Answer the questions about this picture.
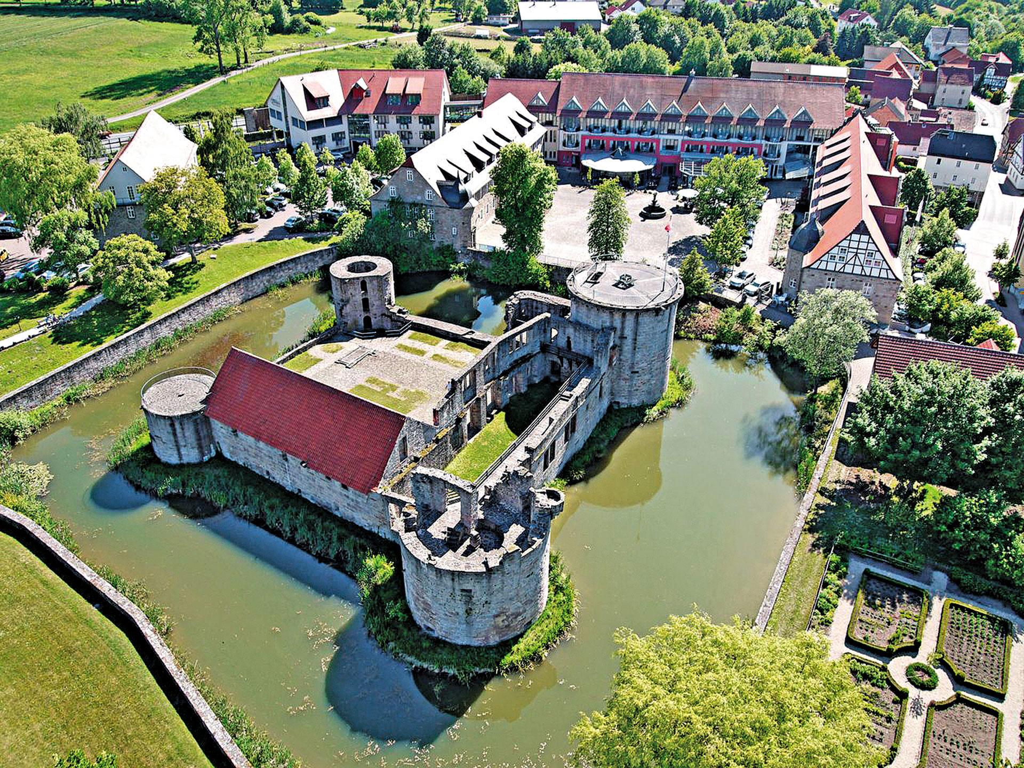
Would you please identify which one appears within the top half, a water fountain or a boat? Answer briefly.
water fountain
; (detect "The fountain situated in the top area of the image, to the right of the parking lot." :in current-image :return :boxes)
[636,191,670,223]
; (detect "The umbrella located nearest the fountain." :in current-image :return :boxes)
[671,189,701,201]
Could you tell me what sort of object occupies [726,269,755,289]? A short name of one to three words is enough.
car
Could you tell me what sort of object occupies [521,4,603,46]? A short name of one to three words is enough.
building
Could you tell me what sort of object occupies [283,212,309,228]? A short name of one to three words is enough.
car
